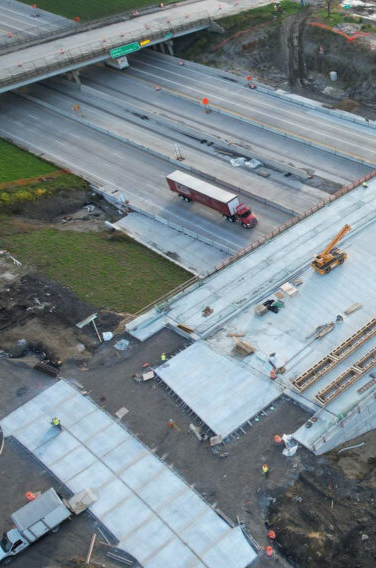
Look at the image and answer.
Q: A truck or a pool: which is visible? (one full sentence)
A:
Looking from above, you can make out a truck.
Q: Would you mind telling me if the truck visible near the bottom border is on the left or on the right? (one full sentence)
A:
The truck visible near the bottom border is on the left side of the image.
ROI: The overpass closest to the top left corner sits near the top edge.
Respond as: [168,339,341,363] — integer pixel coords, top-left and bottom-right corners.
[0,0,249,103]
